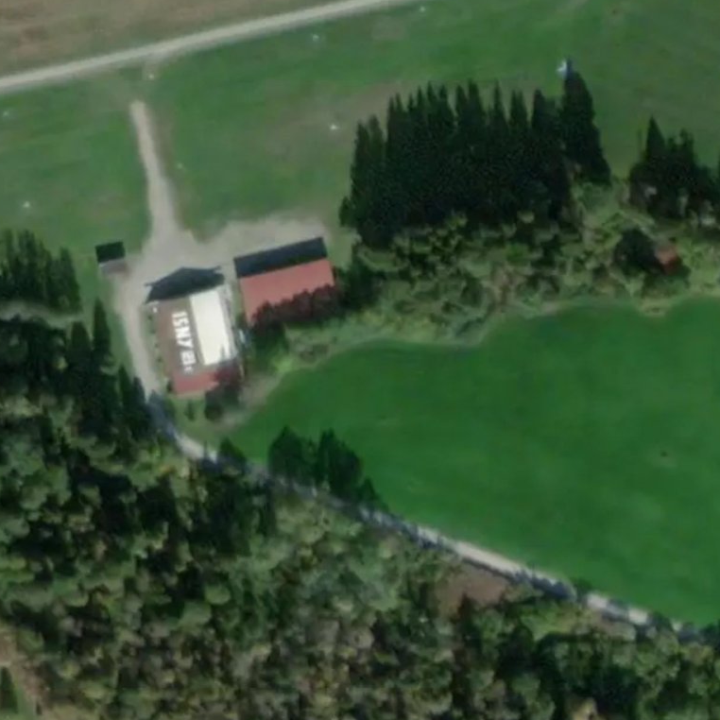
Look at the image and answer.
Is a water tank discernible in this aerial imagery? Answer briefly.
No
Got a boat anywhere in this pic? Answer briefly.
No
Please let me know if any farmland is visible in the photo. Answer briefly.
Yes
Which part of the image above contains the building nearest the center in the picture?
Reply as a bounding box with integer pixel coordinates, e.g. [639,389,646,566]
[238,257,340,327]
